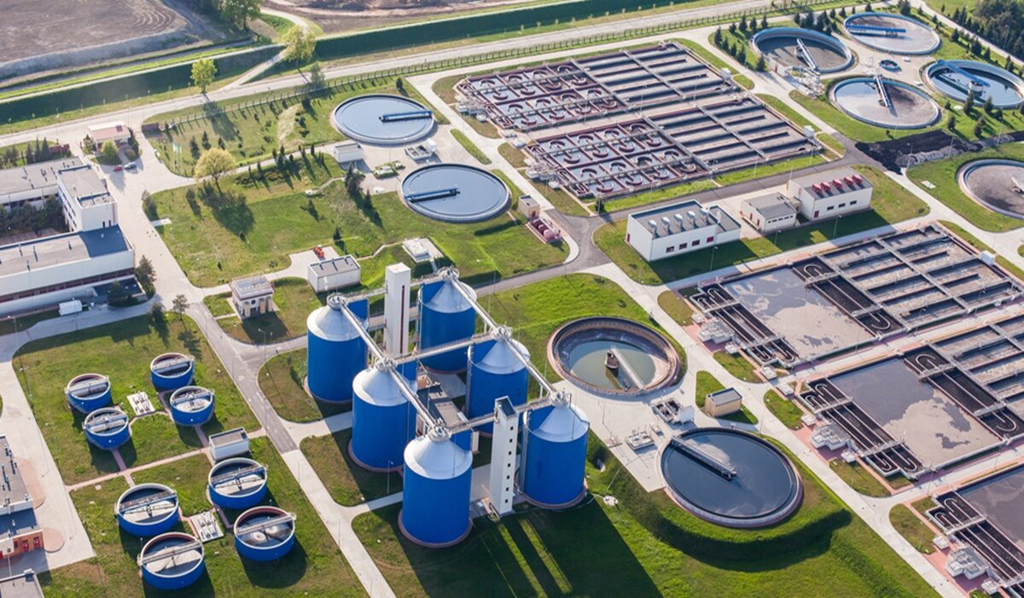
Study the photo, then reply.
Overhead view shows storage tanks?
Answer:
Yes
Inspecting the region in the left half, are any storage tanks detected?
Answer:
Yes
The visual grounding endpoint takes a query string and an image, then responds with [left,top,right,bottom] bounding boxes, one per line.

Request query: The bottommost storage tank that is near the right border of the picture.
[955,157,1024,226]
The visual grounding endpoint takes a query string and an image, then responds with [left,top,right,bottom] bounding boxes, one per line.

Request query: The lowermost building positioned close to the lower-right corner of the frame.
[931,549,987,586]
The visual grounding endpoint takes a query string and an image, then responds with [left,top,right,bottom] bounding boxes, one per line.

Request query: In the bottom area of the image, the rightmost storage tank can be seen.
[655,431,805,533]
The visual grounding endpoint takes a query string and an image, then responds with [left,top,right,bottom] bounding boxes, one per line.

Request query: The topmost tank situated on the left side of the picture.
[331,94,437,147]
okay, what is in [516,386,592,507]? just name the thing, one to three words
silo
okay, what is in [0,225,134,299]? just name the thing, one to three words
building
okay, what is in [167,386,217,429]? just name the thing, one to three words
storage tank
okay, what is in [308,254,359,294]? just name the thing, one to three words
shed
